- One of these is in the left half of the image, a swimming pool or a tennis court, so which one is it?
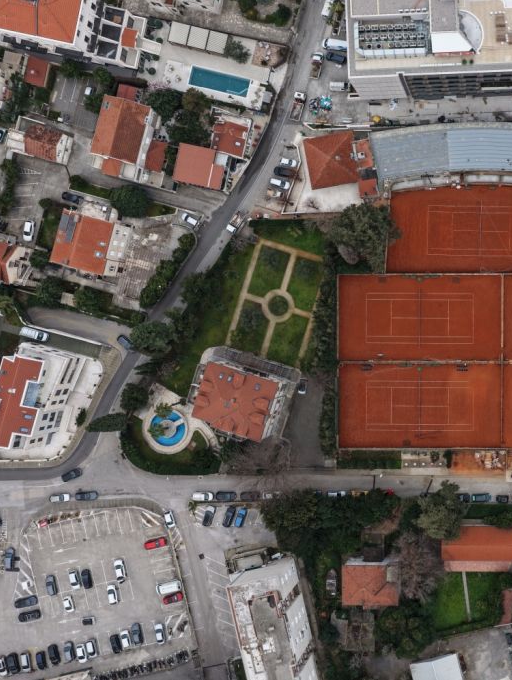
swimming pool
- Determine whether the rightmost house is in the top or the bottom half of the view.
bottom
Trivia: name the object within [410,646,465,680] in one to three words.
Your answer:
shed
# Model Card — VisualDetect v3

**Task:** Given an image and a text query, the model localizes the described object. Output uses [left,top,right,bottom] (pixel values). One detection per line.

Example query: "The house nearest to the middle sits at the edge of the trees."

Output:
[186,346,299,442]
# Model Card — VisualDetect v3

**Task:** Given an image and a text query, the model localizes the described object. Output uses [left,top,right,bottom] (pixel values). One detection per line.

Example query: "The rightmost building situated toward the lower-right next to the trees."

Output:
[441,523,512,573]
